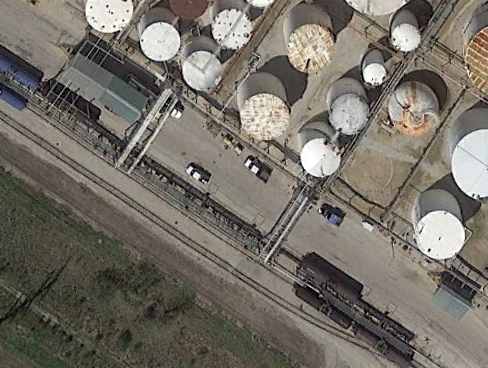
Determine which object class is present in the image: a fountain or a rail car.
rail car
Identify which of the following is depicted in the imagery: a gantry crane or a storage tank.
storage tank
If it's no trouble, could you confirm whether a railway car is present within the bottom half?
Yes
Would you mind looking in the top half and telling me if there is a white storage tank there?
Yes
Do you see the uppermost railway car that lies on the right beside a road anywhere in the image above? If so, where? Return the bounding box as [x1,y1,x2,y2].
[301,261,360,305]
